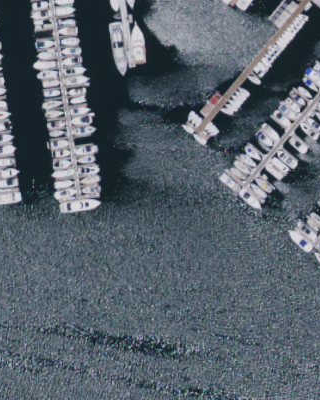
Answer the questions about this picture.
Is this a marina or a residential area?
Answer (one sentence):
The picture captures a marina.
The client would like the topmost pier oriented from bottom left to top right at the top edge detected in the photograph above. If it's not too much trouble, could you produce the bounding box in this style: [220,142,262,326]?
[195,0,311,134]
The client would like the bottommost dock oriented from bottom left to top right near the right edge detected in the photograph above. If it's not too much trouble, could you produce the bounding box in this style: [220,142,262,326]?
[224,72,320,196]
